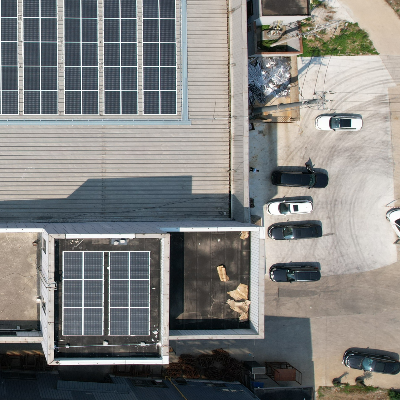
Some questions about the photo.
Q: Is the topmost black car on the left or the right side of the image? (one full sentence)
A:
You can find the topmost black car on the right side of the picture.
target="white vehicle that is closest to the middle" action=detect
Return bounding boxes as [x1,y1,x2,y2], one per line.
[265,199,314,217]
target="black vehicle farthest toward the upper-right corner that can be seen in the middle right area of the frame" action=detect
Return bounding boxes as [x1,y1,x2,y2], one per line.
[270,160,328,187]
